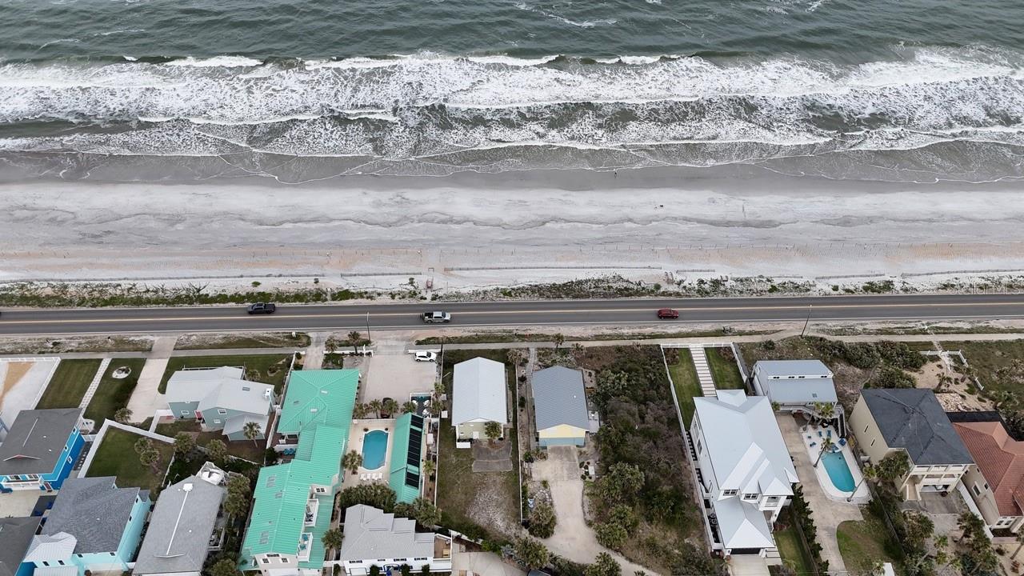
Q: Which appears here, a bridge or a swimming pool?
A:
swimming pool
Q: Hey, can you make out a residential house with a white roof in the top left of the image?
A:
No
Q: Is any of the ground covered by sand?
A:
Yes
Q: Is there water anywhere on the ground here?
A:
Yes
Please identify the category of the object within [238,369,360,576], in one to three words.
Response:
building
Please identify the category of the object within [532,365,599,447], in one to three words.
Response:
house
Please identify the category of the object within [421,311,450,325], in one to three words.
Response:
vehicle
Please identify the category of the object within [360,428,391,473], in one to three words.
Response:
swimming pool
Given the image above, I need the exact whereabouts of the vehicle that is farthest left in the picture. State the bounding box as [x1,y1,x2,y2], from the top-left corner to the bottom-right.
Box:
[246,302,275,315]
